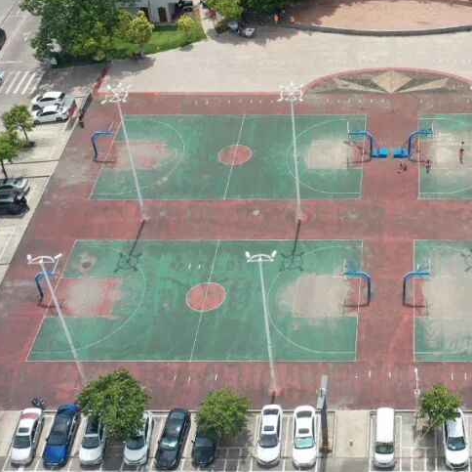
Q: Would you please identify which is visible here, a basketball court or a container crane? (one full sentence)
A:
I can see a basketball court in this picture.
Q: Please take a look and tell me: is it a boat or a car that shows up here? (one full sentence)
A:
Visible in the photo is a car.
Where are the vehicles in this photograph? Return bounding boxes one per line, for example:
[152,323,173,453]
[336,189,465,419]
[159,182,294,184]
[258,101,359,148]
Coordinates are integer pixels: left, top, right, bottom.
[254,410,283,465]
[0,176,36,196]
[42,411,80,467]
[29,93,67,109]
[442,414,471,470]
[74,422,108,470]
[370,406,398,467]
[290,410,318,466]
[29,106,74,125]
[156,414,190,470]
[121,415,155,468]
[7,411,47,467]
[0,191,32,213]
[189,431,218,468]
[0,29,8,47]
